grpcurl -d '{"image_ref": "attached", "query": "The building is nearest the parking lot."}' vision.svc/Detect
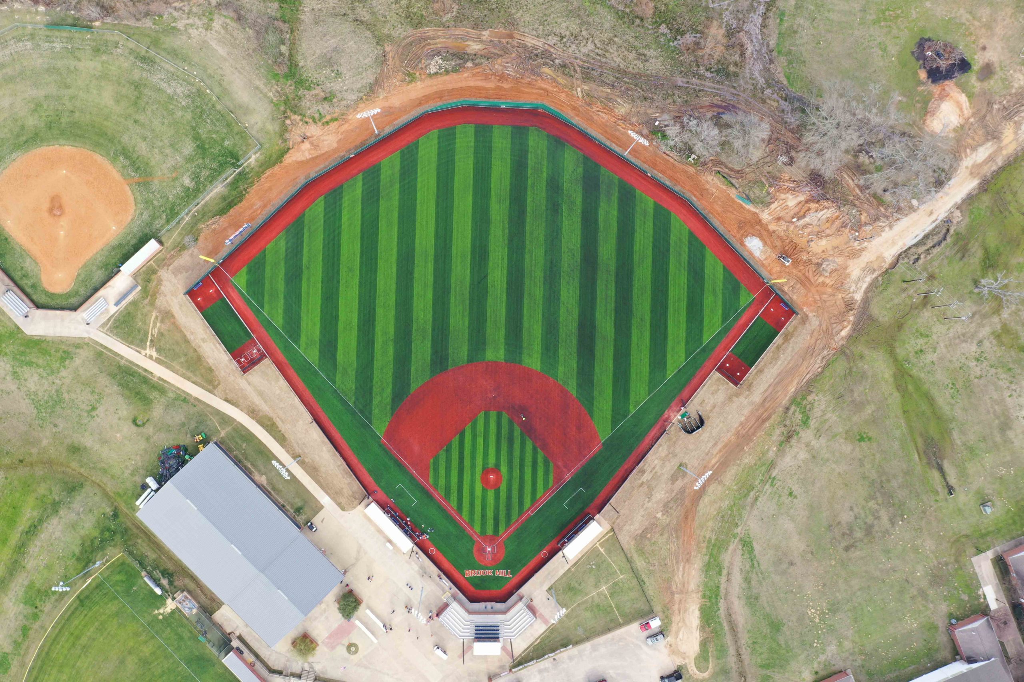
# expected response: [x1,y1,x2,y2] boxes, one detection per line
[474,637,503,655]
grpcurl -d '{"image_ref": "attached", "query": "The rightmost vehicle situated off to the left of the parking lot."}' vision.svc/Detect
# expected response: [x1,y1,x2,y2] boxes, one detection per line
[432,645,449,661]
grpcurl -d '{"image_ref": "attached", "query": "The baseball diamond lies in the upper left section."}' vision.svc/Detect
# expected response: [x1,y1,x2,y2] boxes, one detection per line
[0,25,255,309]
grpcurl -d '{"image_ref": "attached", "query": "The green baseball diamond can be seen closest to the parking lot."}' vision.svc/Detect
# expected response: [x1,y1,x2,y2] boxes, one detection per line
[190,107,797,603]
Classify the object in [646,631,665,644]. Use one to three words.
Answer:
vehicle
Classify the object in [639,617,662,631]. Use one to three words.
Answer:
vehicle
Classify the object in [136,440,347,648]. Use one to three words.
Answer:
building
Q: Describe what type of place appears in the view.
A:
sports ground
